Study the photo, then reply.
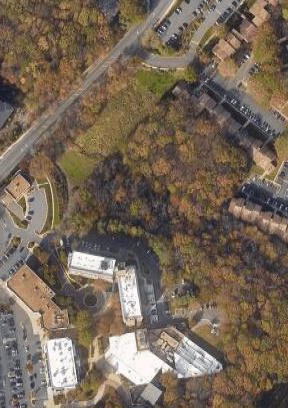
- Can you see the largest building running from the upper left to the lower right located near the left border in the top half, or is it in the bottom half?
bottom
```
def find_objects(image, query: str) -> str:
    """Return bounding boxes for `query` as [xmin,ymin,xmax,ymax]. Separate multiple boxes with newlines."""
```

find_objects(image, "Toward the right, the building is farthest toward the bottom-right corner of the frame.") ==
[173,338,222,382]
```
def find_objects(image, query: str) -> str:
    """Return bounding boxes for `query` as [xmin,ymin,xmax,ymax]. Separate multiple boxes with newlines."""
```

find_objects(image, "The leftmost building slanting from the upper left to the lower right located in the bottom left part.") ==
[2,265,68,334]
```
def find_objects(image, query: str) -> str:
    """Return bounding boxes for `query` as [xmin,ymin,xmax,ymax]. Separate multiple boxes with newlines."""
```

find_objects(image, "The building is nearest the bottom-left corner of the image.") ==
[46,337,77,390]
